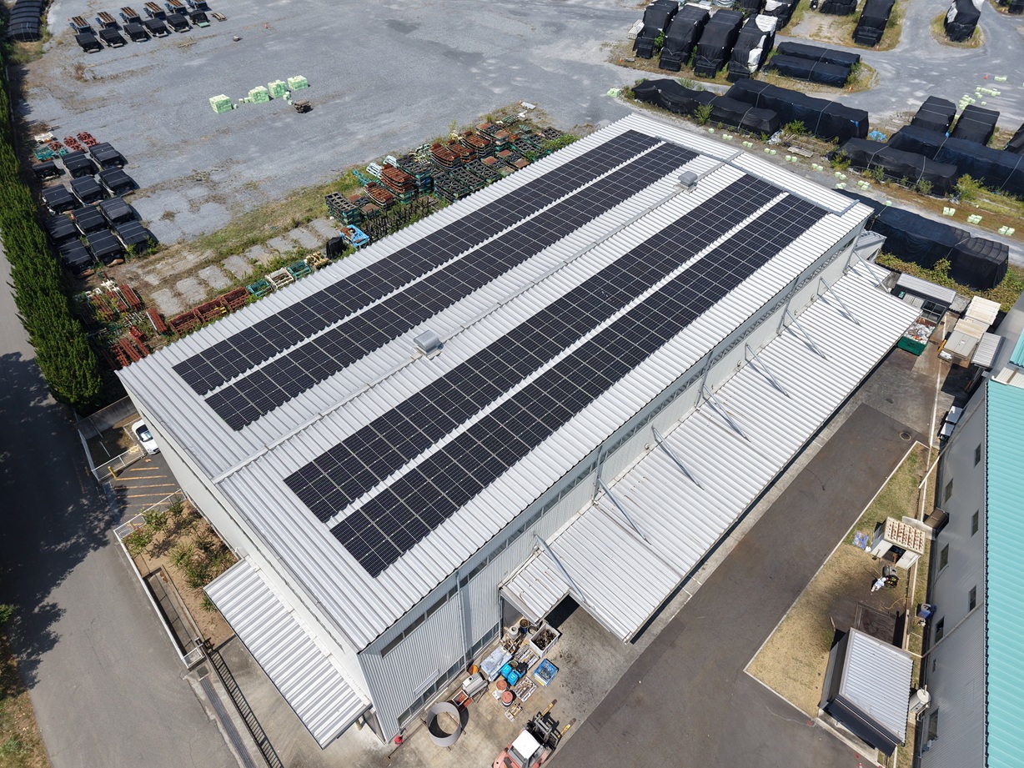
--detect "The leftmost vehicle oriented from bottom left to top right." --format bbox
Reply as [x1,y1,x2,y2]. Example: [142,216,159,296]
[493,700,576,768]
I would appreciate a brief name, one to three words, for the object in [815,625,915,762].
shed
